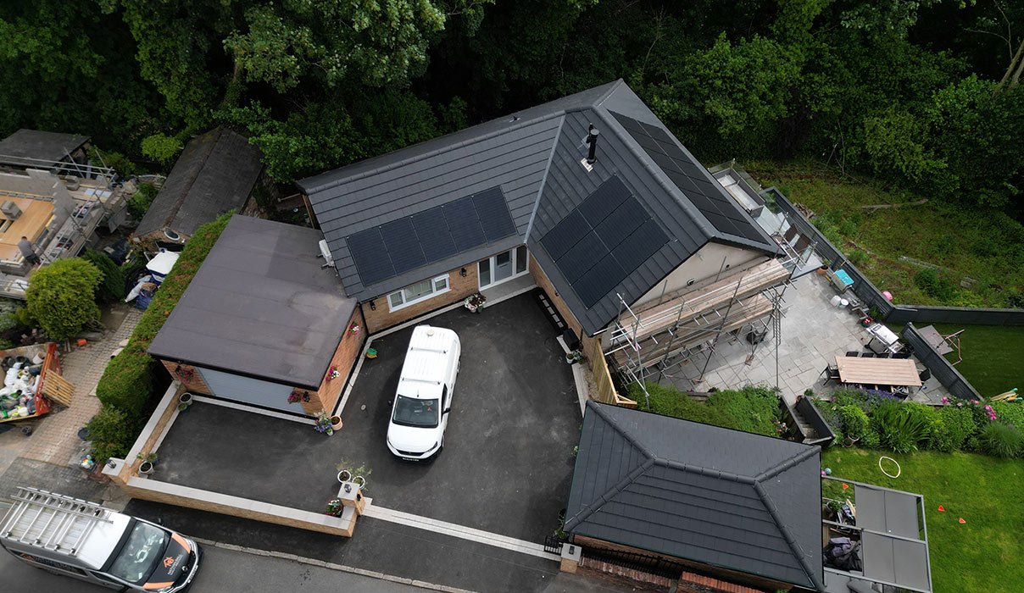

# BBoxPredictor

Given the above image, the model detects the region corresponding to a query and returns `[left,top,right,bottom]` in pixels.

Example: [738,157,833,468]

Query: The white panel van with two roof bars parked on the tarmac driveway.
[385,331,459,468]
